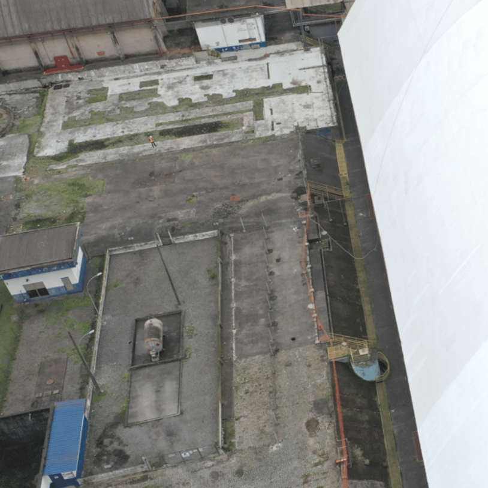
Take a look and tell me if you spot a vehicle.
No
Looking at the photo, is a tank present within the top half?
No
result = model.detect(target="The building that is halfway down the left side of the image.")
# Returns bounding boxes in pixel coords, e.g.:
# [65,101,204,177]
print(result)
[0,223,85,300]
